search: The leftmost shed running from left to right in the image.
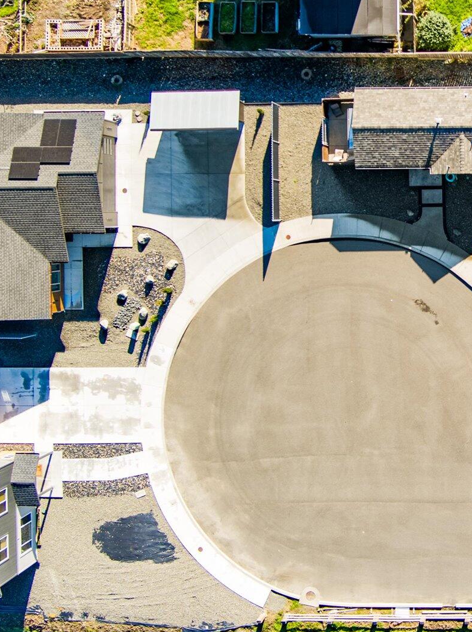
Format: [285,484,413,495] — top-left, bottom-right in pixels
[149,89,251,134]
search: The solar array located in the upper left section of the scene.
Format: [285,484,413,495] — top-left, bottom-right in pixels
[8,120,77,179]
